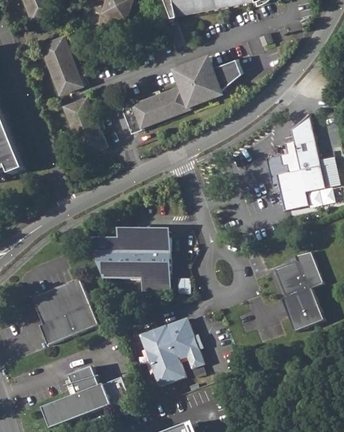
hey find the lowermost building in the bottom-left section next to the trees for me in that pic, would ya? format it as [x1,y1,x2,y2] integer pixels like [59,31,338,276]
[42,366,124,423]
